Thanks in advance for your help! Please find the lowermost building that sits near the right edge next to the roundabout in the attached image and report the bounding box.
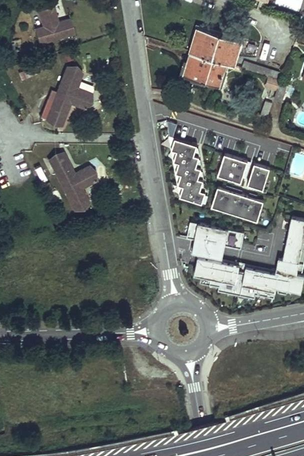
[186,220,304,302]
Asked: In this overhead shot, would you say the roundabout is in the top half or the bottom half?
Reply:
bottom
